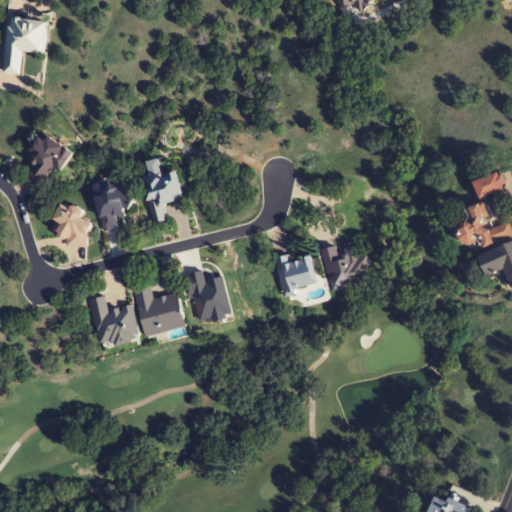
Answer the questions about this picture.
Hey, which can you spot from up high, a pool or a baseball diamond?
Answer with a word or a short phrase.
pool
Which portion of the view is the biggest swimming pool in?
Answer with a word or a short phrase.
center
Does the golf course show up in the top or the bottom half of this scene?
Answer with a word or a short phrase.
bottom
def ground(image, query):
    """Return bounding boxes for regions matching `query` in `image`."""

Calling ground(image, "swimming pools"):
[288,270,332,307]
[167,326,188,342]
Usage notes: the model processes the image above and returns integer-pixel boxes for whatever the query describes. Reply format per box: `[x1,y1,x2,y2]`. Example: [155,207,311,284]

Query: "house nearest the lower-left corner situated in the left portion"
[88,295,140,347]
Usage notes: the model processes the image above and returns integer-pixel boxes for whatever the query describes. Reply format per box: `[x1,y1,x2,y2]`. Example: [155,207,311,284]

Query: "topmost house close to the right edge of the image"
[472,170,508,197]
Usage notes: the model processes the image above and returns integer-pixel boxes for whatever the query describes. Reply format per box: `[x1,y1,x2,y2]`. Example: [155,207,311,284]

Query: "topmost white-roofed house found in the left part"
[5,18,50,77]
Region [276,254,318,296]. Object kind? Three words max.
house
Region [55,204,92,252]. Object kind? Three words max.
house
